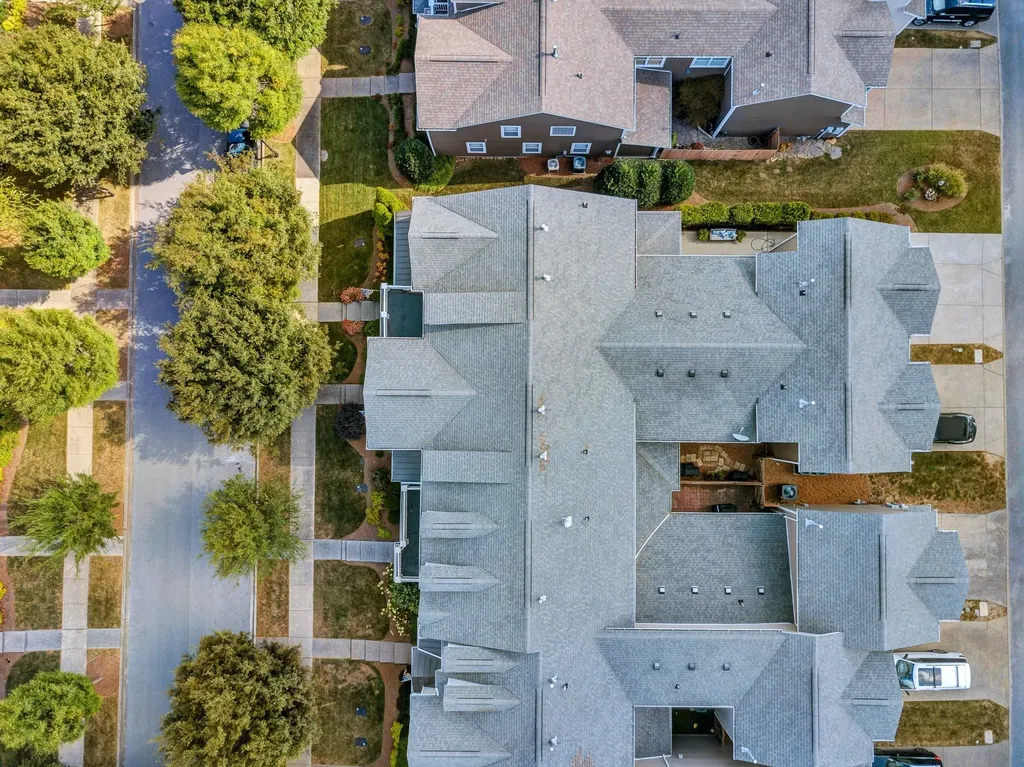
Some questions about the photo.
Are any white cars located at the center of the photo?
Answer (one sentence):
No, the scene shows no white car at the center of the photo.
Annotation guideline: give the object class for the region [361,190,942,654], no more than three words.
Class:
house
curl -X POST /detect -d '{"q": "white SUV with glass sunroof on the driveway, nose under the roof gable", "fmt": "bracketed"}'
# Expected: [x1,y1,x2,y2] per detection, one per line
[894,649,973,694]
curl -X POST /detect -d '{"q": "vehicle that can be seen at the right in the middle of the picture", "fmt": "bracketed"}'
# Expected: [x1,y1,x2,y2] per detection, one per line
[932,412,976,445]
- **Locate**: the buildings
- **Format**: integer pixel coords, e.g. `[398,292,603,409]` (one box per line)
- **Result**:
[361,190,942,654]
[412,0,899,160]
